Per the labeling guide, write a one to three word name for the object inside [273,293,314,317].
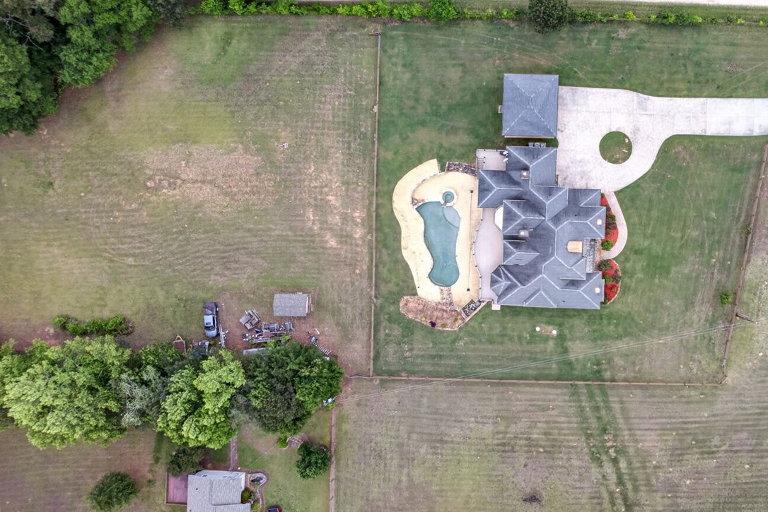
shed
